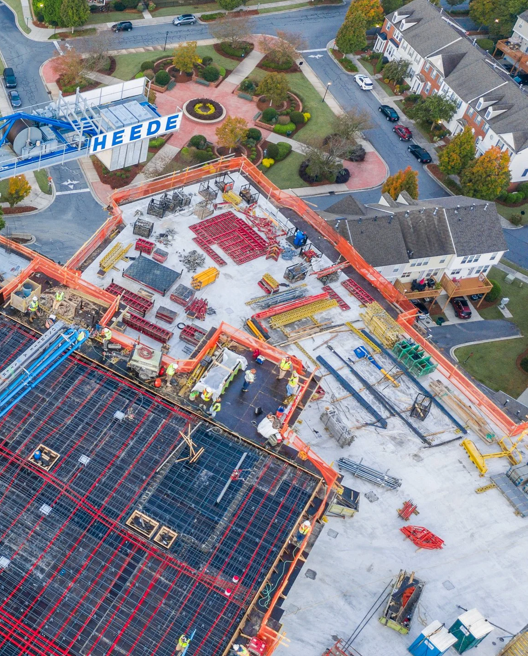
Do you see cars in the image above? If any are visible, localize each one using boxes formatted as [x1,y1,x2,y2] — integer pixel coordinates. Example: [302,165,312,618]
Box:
[111,21,134,34]
[173,15,197,28]
[405,146,434,164]
[388,124,417,143]
[4,68,16,86]
[447,293,477,322]
[351,75,377,91]
[9,91,22,102]
[400,298,436,325]
[375,106,403,122]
